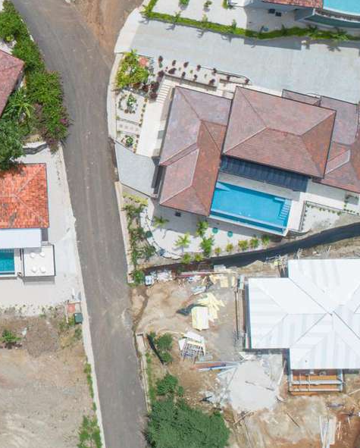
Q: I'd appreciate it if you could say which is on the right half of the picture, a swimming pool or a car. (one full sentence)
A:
It is a swimming pool that can be seen on the right half of the picture.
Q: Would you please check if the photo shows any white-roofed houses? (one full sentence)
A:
Yes, the picture does show a white-roofed house.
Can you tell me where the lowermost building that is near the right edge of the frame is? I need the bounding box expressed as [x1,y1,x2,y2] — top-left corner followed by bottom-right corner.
[240,258,360,393]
